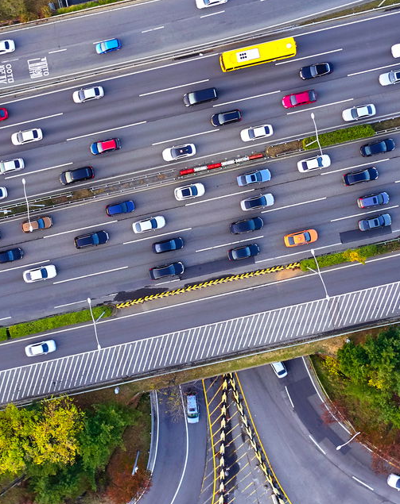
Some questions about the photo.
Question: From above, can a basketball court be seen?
No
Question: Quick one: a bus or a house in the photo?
bus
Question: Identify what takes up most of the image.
paved ground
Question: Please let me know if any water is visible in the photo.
No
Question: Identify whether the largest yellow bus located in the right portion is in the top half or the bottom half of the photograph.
top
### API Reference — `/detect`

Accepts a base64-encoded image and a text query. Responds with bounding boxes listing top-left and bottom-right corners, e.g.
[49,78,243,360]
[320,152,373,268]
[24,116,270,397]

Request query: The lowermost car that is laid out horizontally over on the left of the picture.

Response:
[25,339,58,357]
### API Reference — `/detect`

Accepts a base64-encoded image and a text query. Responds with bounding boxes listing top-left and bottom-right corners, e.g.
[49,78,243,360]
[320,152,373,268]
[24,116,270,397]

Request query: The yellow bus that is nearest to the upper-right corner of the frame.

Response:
[217,38,299,72]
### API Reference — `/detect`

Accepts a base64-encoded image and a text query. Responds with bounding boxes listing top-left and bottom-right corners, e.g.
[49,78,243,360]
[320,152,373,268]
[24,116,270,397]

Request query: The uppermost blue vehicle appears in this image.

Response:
[96,38,123,54]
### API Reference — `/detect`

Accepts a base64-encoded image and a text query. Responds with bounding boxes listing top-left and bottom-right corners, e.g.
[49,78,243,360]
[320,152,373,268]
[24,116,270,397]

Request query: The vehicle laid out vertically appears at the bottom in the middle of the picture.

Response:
[185,392,200,426]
